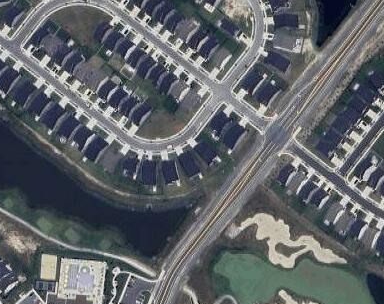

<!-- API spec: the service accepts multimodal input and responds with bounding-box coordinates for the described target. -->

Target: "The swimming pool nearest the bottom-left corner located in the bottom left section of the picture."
[58,258,106,304]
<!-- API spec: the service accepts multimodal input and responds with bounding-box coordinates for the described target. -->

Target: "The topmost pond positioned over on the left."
[0,113,189,259]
